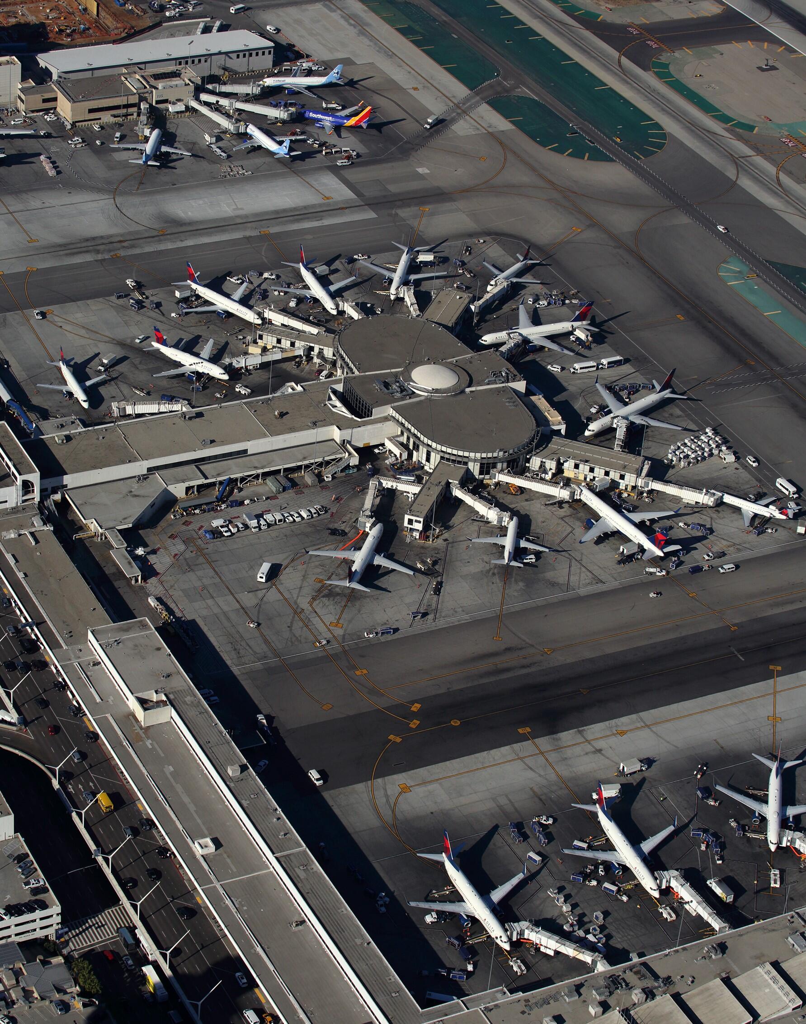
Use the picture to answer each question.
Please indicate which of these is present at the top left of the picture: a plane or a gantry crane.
plane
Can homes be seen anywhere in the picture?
Yes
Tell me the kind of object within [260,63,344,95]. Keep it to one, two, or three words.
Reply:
airplane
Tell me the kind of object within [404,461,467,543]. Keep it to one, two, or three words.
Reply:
building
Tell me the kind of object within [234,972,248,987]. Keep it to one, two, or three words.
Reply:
car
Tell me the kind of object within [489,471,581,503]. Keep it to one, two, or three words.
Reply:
jet bridge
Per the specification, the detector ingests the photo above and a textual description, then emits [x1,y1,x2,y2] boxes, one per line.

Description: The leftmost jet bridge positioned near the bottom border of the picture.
[511,925,605,973]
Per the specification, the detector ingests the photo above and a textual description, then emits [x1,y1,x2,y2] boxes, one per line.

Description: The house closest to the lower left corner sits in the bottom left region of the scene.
[16,951,84,1013]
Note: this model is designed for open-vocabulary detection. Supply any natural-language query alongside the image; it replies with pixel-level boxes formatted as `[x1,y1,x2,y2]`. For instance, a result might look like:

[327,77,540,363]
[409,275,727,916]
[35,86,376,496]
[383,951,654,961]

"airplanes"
[583,371,687,440]
[175,265,262,326]
[298,104,373,134]
[470,516,553,566]
[562,785,680,901]
[482,248,543,293]
[232,122,308,156]
[579,488,681,559]
[109,129,192,163]
[714,742,806,854]
[477,299,598,353]
[33,350,108,411]
[309,524,419,588]
[701,488,798,524]
[358,235,449,302]
[269,248,358,317]
[260,63,344,95]
[141,327,230,384]
[408,833,528,953]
